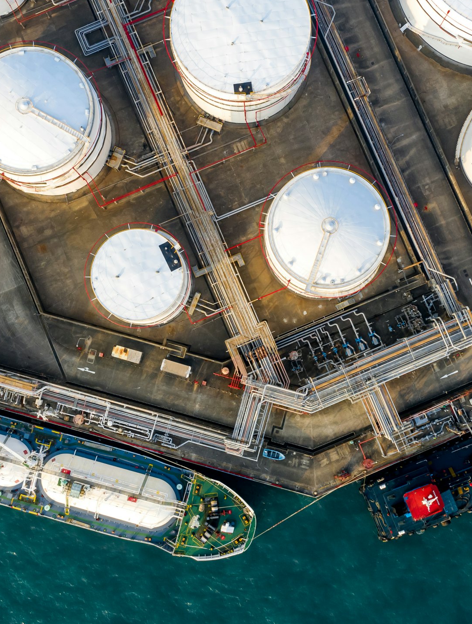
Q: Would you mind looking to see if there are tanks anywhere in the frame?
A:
Yes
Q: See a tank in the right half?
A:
Yes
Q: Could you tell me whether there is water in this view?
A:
Yes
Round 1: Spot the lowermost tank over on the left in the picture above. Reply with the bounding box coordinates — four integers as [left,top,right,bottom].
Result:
[84,221,194,328]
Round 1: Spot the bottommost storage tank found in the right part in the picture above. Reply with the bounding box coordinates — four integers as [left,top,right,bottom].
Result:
[259,161,397,301]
